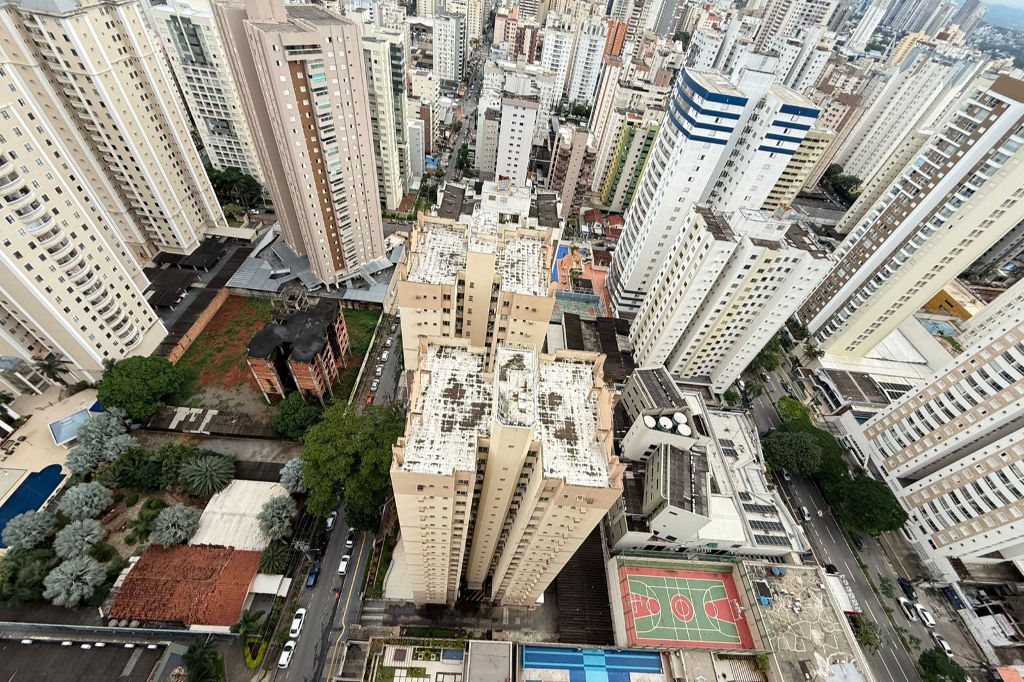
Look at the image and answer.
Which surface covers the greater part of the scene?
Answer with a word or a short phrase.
buildings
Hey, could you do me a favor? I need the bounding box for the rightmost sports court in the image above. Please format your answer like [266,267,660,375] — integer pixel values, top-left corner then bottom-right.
[618,561,750,646]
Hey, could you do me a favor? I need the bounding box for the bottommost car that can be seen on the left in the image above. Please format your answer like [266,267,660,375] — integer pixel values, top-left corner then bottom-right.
[277,639,296,670]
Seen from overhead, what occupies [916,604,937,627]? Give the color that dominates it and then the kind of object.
white car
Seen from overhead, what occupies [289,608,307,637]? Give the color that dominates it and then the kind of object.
white car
